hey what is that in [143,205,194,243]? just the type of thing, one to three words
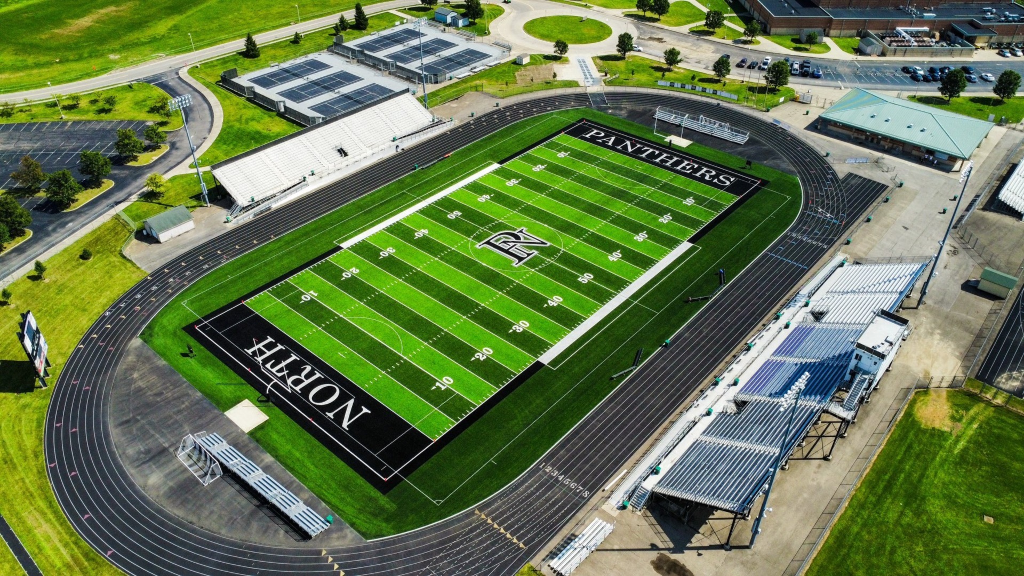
shed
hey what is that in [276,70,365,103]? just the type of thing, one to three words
tennis court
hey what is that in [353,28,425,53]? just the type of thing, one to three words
tennis court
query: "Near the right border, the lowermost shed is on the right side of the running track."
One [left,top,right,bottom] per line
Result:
[976,267,1021,299]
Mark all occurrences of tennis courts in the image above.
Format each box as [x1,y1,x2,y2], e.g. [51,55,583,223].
[306,83,393,117]
[276,70,365,103]
[415,48,491,76]
[353,28,425,53]
[247,59,333,89]
[383,38,459,65]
